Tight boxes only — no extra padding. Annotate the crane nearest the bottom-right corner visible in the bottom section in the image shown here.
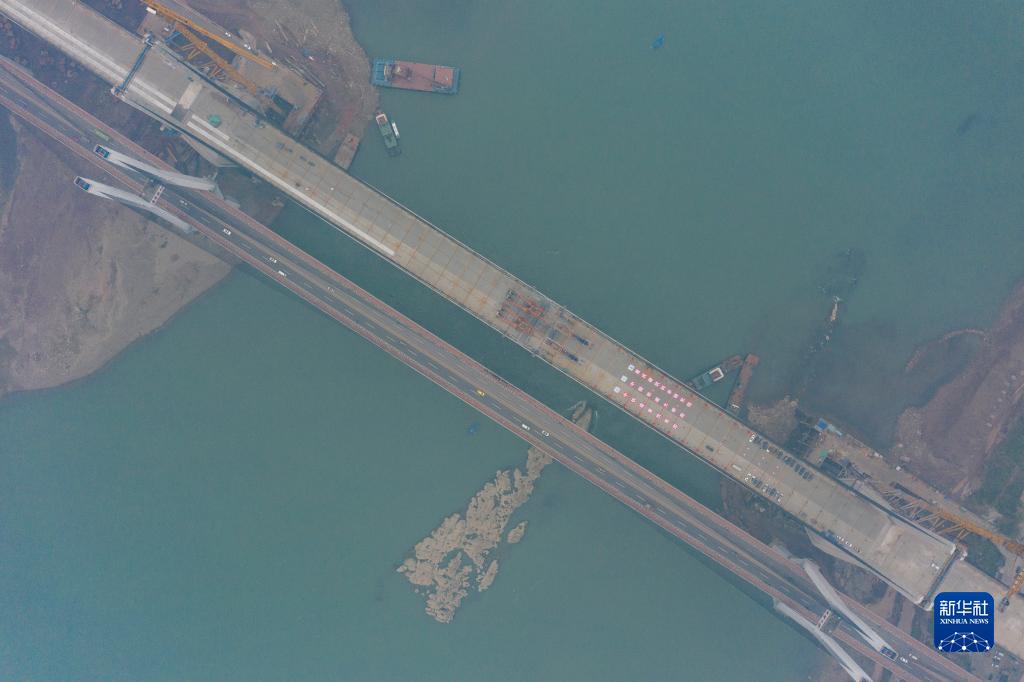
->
[861,479,1024,606]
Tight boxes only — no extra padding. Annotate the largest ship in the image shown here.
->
[371,57,460,94]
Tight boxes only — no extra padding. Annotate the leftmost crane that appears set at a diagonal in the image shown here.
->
[140,0,275,100]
